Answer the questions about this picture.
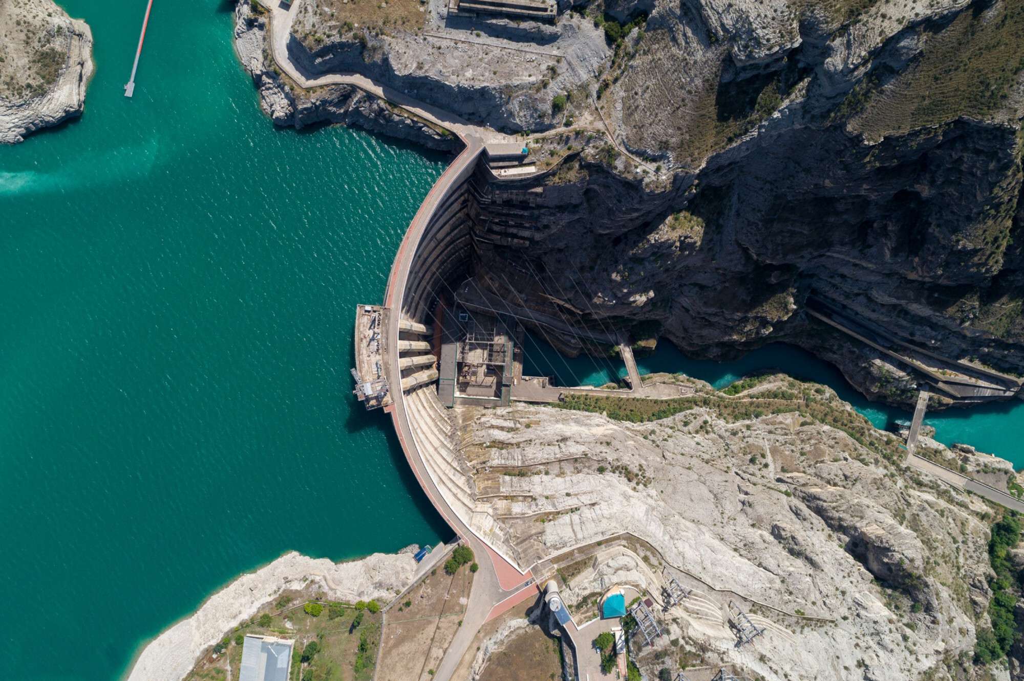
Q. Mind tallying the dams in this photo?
1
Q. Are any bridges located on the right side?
Yes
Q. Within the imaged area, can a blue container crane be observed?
No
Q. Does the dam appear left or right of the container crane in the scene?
right of it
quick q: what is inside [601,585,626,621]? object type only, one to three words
building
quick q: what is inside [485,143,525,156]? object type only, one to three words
building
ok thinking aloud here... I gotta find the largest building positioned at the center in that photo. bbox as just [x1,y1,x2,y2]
[439,303,518,407]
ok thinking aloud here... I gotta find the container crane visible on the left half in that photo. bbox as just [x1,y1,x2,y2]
[352,369,389,409]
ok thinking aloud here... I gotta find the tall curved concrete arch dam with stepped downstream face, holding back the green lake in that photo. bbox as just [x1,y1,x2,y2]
[383,145,524,574]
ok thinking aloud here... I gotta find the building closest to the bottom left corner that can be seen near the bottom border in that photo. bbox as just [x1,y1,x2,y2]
[240,630,298,681]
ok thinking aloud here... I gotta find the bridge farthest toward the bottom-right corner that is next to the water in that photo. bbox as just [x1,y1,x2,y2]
[899,393,931,455]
